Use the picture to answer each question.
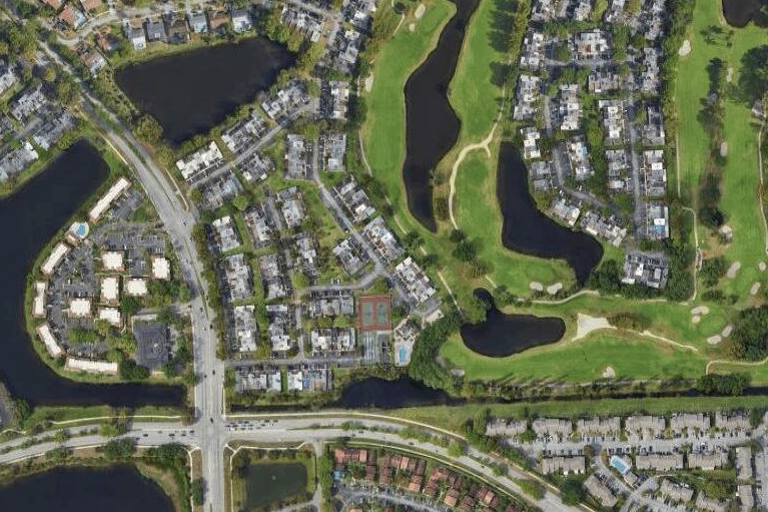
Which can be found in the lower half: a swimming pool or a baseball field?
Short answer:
swimming pool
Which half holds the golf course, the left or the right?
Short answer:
right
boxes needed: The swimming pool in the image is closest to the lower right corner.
[610,455,631,474]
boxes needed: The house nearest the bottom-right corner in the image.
[739,485,754,512]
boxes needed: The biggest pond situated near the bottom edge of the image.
[246,463,307,508]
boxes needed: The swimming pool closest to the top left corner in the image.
[71,221,91,239]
